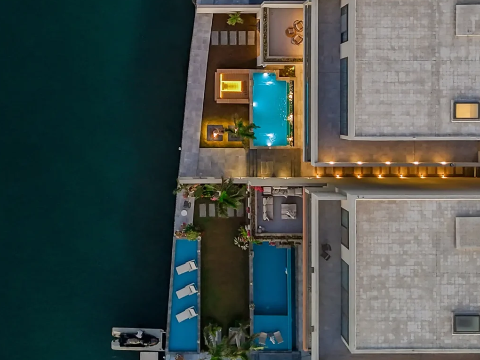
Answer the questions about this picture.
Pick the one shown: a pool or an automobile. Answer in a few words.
pool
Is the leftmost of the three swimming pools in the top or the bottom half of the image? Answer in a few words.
bottom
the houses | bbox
[248,179,480,360]
[258,0,480,165]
